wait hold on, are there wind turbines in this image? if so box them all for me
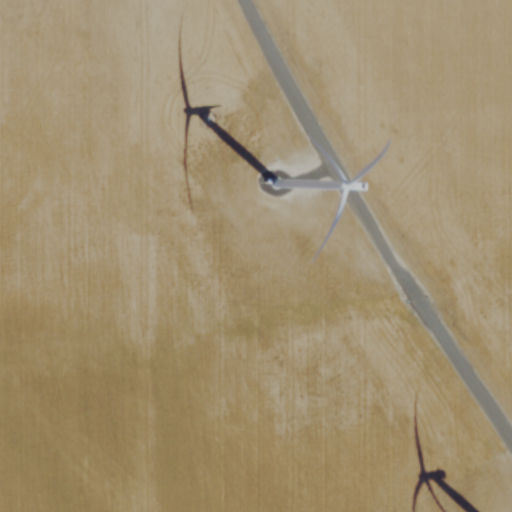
[270,129,396,265]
